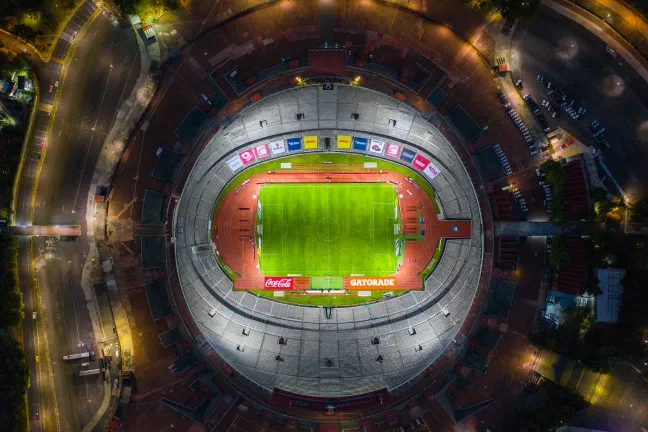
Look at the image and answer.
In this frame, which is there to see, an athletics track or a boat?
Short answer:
athletics track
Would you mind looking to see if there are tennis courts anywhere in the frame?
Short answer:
No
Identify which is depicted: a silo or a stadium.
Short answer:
stadium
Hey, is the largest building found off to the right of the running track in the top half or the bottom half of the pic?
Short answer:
bottom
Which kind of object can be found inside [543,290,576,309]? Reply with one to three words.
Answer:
building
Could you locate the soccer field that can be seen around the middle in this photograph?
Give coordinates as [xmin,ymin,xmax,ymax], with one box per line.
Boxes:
[256,182,401,276]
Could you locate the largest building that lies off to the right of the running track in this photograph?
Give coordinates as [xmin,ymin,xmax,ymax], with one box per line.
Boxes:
[592,268,625,323]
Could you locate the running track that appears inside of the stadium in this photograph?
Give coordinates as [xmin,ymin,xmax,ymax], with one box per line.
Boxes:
[214,173,465,291]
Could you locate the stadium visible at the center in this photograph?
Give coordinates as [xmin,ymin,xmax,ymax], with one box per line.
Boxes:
[165,67,494,421]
